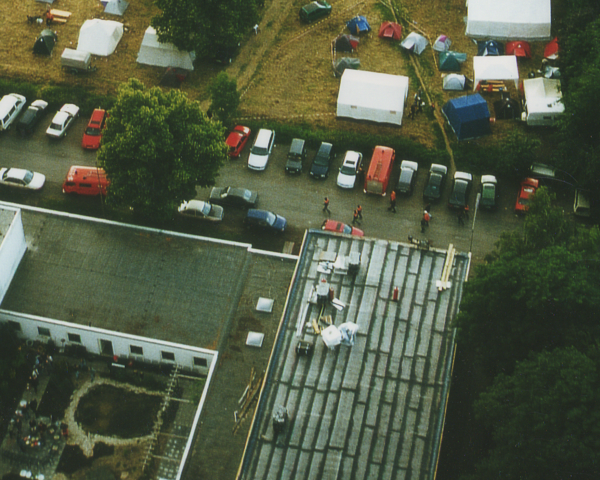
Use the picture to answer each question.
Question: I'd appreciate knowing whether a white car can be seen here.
Yes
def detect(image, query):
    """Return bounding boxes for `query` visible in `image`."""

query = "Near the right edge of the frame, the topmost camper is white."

[521,89,579,124]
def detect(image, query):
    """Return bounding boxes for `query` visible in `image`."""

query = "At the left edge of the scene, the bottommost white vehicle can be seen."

[0,167,49,192]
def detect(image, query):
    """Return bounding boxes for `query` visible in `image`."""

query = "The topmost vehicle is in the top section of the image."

[294,1,336,24]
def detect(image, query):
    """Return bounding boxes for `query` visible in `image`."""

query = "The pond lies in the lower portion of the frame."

[64,372,174,449]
